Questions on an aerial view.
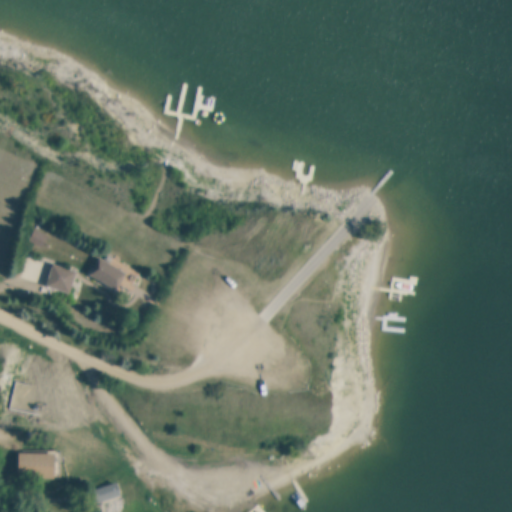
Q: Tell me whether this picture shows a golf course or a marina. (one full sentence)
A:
The area seen from above is a marina.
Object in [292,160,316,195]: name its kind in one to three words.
pier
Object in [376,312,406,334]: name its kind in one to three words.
pier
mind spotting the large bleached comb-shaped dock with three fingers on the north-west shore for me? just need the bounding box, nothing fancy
[164,84,215,142]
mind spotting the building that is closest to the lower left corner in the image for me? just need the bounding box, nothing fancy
[18,454,54,480]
